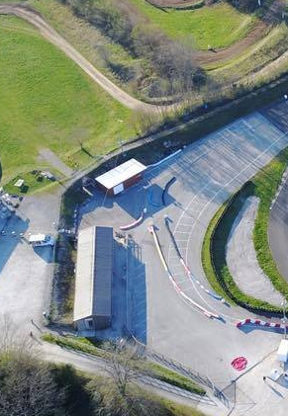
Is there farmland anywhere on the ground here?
Yes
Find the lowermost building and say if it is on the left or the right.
left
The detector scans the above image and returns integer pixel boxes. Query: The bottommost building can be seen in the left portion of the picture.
[74,218,114,338]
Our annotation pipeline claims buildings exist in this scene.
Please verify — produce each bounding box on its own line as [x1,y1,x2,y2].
[95,160,148,201]
[74,218,114,338]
